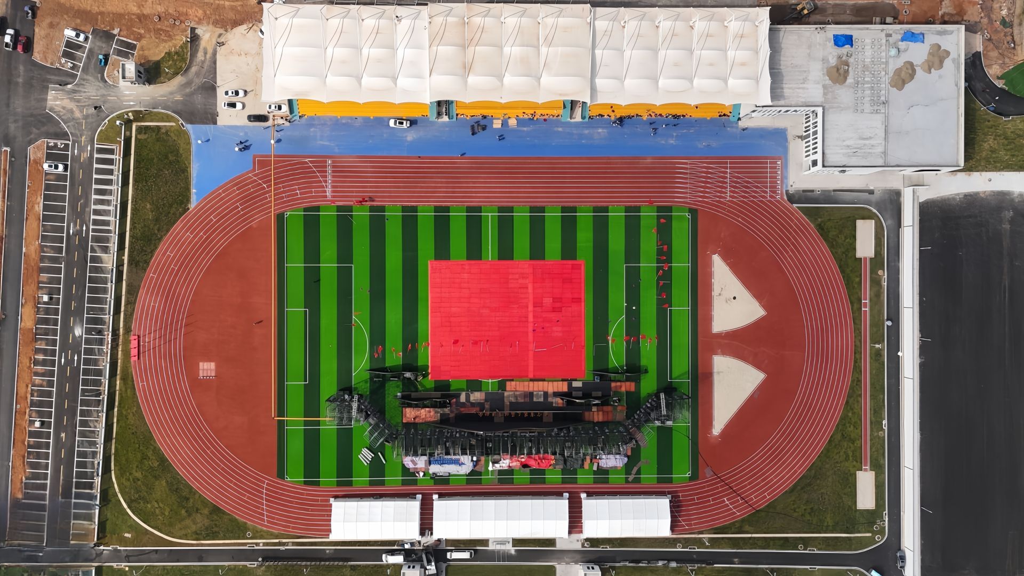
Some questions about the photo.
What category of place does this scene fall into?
sports ground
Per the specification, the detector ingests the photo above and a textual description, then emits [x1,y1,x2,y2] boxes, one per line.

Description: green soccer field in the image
[277,205,696,486]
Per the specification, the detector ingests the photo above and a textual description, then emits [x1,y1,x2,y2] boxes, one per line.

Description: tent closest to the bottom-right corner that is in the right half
[580,495,672,538]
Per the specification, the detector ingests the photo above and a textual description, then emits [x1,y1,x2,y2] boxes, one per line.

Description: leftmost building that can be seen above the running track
[119,62,146,87]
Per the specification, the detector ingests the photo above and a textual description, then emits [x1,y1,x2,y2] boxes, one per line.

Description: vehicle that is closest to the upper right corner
[776,0,813,25]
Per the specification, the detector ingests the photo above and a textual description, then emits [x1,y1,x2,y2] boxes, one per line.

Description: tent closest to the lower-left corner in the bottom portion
[330,496,423,540]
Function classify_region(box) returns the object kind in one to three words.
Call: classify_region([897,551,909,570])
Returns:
vehicle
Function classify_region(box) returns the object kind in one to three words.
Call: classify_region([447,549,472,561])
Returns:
vehicle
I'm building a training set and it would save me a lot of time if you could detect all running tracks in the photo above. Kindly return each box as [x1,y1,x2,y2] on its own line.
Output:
[134,156,854,534]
